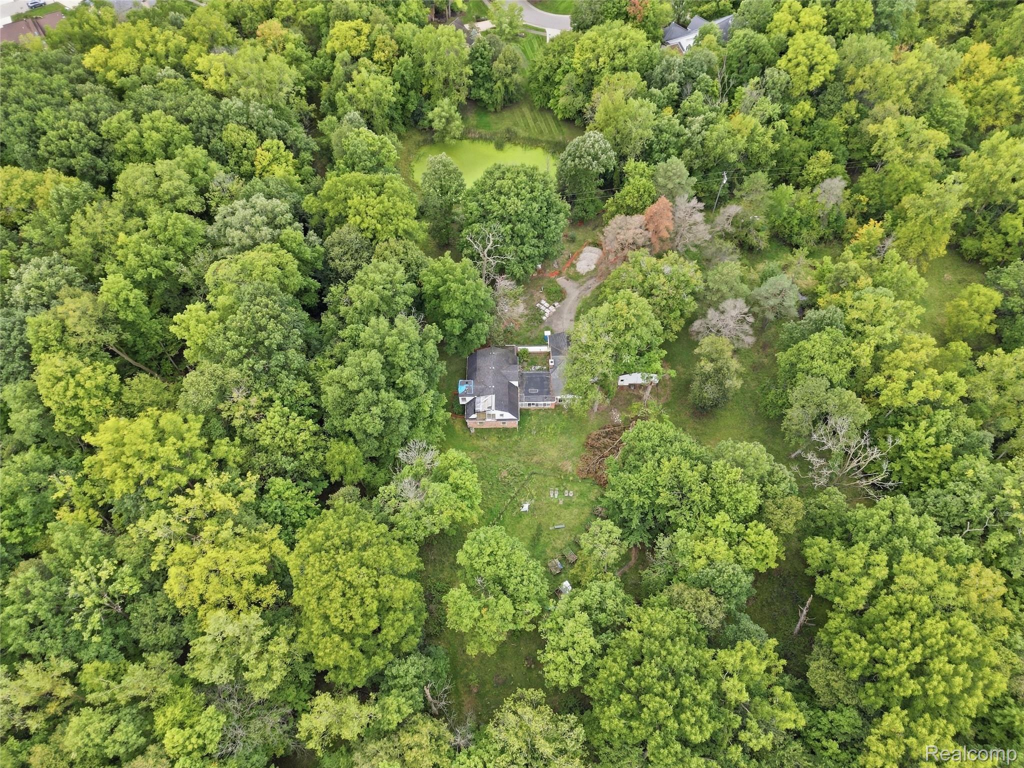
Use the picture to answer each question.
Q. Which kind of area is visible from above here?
forest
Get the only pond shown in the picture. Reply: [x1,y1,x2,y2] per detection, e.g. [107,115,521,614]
[413,142,560,189]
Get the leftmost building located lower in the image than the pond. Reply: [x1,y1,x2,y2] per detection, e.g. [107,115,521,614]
[459,343,552,428]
